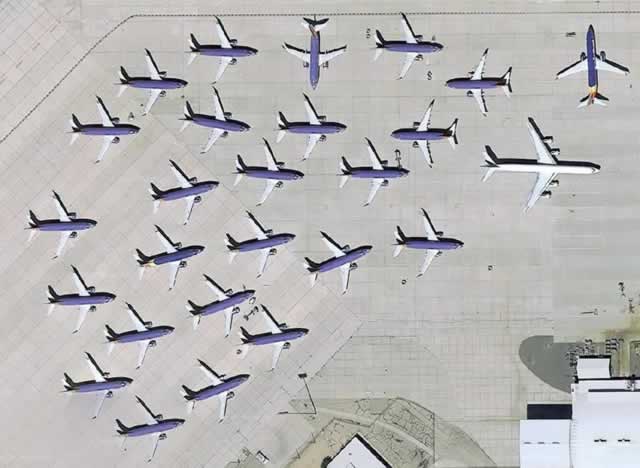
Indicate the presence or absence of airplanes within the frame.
Yes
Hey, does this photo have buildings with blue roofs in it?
No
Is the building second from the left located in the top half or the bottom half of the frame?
bottom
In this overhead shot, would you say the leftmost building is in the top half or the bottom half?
bottom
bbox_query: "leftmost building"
[327,437,386,468]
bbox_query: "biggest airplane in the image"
[479,121,599,215]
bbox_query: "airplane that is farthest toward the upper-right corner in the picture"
[552,26,628,109]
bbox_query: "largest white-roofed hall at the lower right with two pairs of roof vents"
[572,381,640,468]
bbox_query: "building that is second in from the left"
[520,420,572,468]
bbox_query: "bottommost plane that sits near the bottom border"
[113,400,185,461]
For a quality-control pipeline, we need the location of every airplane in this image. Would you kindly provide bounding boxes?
[132,228,204,289]
[24,194,97,256]
[552,26,628,109]
[387,211,462,274]
[271,95,346,158]
[178,89,250,149]
[222,216,295,277]
[103,307,174,368]
[367,14,442,78]
[179,362,249,422]
[68,98,140,160]
[279,24,345,90]
[148,164,219,225]
[479,121,599,215]
[113,400,185,461]
[63,356,133,417]
[332,139,408,202]
[46,269,116,331]
[446,53,514,117]
[391,104,459,167]
[301,235,372,294]
[114,52,188,114]
[184,19,258,82]
[184,278,254,338]
[232,139,304,202]
[236,309,308,371]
